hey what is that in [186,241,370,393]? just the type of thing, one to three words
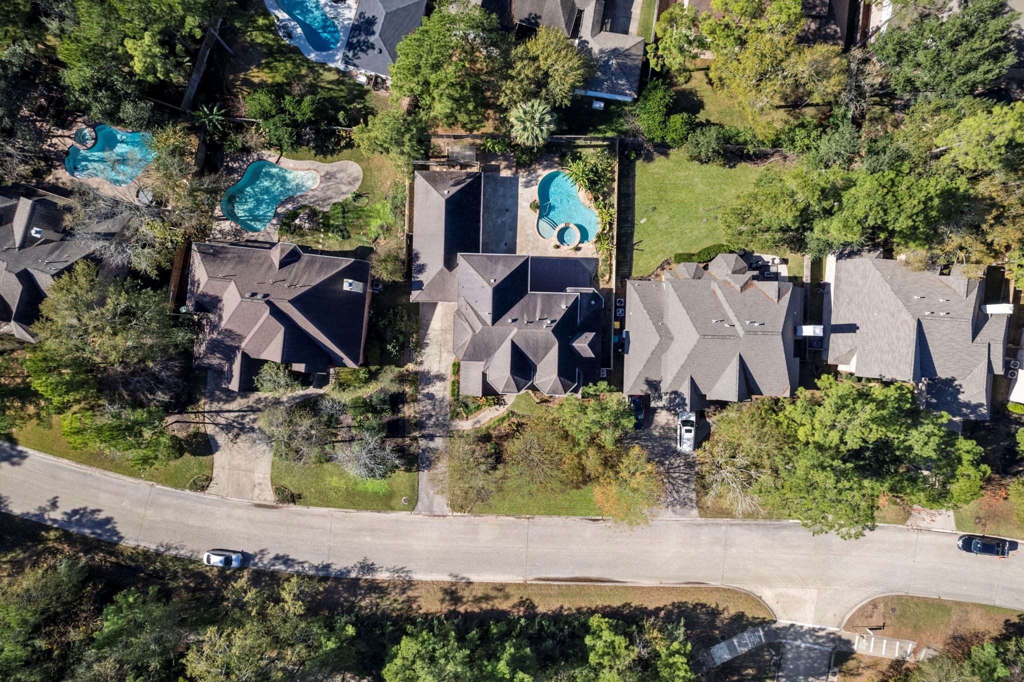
house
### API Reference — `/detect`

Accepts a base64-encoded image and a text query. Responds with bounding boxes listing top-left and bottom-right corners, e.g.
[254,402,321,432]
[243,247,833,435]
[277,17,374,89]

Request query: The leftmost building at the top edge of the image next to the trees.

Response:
[341,0,428,82]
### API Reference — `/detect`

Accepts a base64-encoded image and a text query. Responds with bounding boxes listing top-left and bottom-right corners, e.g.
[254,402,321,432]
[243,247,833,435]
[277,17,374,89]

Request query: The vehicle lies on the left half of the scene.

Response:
[202,548,244,569]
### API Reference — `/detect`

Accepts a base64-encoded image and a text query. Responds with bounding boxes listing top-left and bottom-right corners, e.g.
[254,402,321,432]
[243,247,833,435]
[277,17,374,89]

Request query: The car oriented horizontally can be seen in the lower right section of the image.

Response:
[956,533,1010,557]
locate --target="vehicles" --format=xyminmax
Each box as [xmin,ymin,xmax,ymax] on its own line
[202,548,244,569]
[677,411,698,453]
[956,533,1010,557]
[626,396,646,433]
